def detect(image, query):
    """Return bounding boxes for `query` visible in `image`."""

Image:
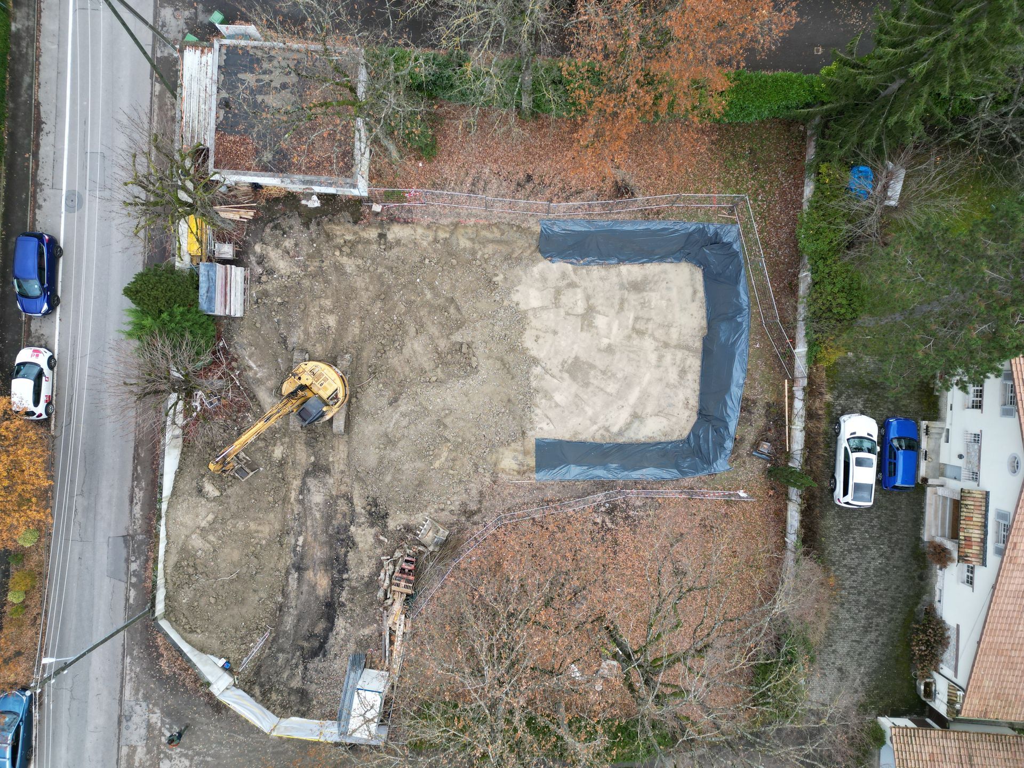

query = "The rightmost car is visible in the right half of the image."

[877,417,924,493]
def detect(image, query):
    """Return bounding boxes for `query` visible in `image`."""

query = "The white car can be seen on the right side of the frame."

[829,412,883,506]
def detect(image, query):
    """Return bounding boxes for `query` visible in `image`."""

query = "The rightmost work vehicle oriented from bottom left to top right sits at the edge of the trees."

[202,352,357,484]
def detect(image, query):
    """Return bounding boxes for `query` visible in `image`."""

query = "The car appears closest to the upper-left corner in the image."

[11,234,64,315]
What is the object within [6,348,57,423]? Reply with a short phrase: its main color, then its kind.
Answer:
white car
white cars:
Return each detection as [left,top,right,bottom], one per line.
[829,412,883,506]
[6,348,57,423]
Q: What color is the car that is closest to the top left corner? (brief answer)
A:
blue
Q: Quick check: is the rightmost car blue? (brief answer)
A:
Yes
